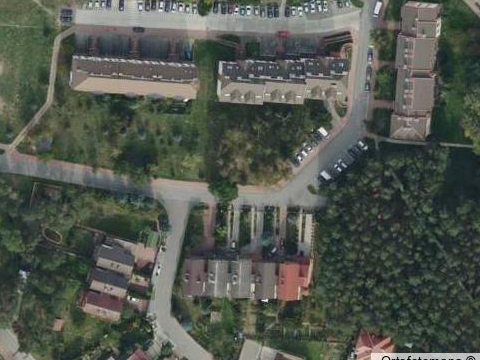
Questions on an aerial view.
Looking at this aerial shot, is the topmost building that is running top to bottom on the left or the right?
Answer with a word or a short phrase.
right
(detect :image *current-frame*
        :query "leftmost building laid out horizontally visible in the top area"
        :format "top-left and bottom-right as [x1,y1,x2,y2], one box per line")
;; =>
[72,56,197,101]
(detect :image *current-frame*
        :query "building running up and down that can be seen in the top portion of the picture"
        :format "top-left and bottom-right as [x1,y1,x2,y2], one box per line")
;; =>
[390,1,443,140]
